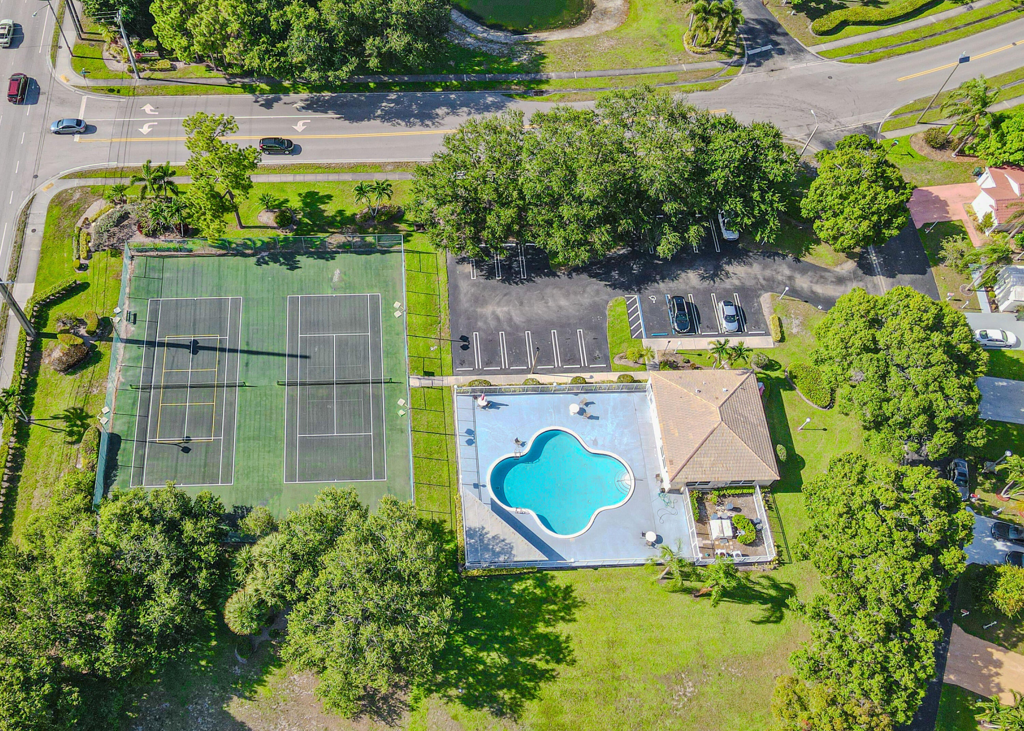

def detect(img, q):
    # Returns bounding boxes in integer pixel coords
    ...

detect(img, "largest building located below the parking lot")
[647,368,781,490]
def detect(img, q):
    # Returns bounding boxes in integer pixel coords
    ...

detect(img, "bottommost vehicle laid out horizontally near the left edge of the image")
[50,118,87,136]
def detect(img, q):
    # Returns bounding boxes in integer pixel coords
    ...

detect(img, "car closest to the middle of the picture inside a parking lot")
[668,297,692,334]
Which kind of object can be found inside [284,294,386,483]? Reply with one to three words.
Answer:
tennis court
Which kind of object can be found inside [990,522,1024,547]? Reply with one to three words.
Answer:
car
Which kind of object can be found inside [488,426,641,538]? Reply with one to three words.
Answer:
swimming pool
